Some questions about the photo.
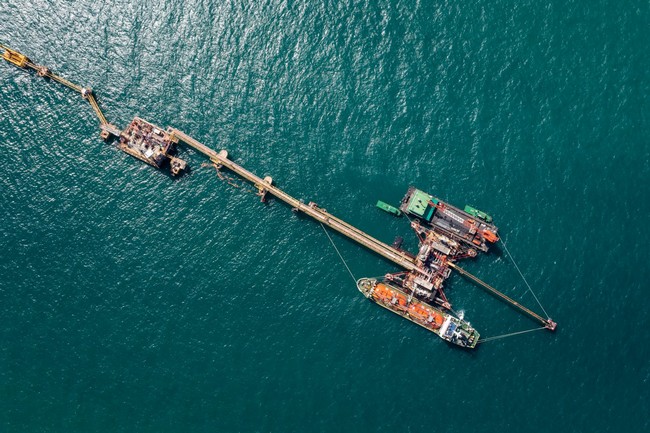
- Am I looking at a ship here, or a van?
ship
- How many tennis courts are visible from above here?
zero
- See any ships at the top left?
No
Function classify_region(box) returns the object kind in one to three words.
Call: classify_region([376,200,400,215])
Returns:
boat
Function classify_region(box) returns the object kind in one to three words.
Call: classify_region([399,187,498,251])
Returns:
ship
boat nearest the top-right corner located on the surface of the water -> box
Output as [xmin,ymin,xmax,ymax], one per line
[463,204,492,220]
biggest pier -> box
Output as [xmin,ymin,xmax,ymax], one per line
[166,126,432,276]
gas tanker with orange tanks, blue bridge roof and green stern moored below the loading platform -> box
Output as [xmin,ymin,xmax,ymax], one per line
[357,277,480,349]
